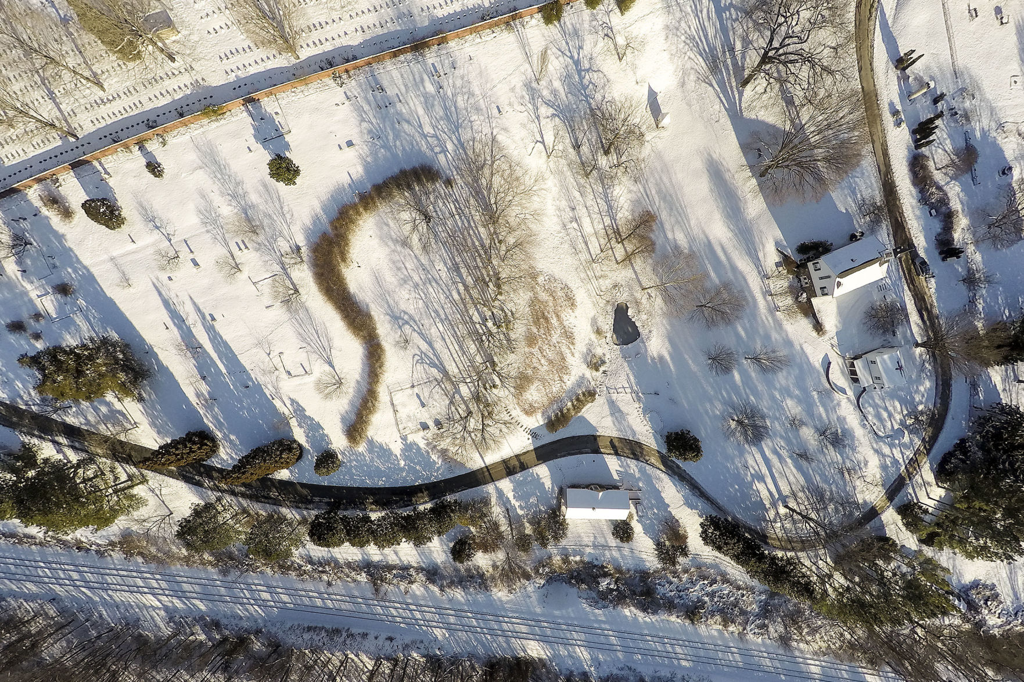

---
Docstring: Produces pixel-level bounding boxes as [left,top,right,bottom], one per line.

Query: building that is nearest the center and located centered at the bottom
[560,482,637,521]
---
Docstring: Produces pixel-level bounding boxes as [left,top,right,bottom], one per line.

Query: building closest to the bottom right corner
[845,348,909,391]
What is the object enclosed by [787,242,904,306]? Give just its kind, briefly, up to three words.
building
